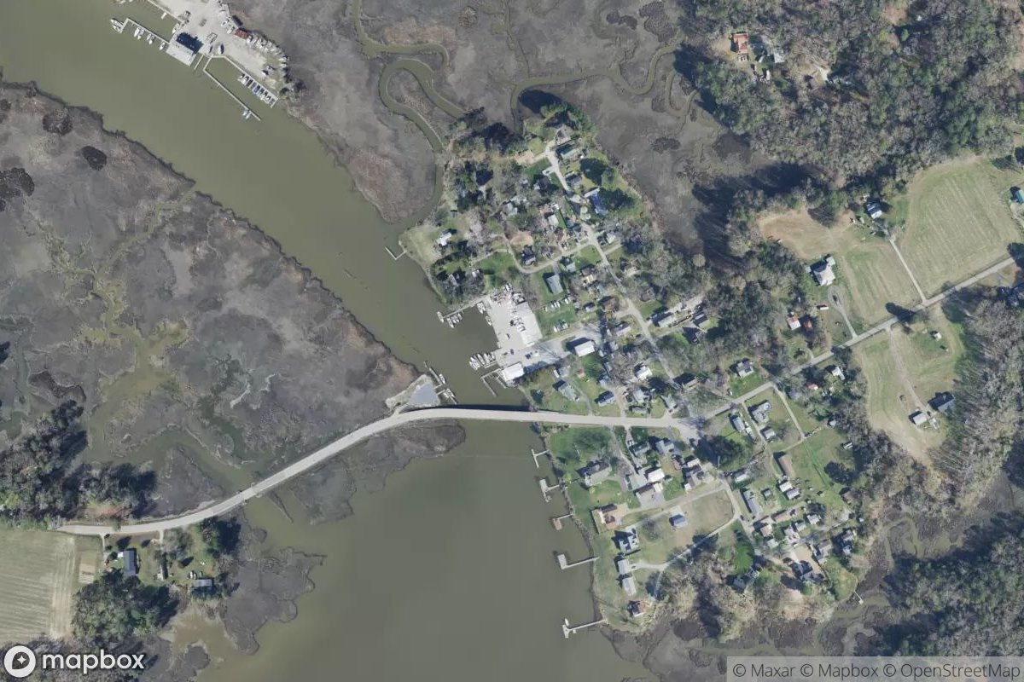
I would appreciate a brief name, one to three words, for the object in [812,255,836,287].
house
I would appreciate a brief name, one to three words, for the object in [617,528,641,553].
house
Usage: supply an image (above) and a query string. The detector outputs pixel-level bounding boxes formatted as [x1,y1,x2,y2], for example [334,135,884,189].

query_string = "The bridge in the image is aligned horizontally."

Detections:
[412,409,529,422]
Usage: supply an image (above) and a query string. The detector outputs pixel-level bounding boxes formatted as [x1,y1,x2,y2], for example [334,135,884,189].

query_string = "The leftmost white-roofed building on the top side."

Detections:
[165,39,197,67]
